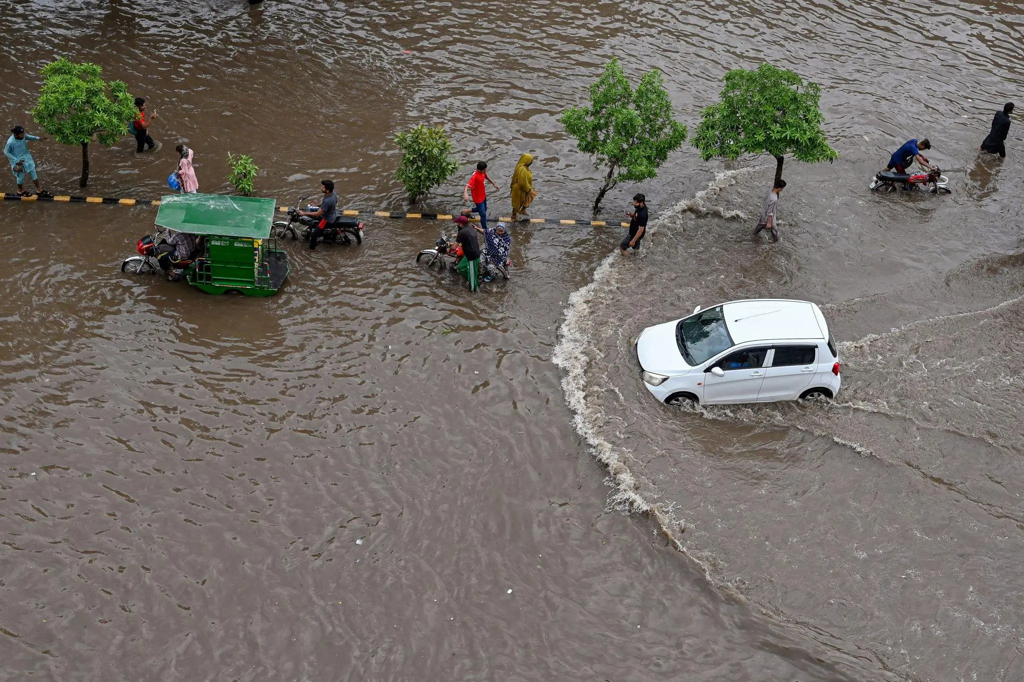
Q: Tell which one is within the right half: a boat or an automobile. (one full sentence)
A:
It is an automobile that can be seen within the right half.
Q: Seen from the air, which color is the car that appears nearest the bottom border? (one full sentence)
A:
The car that appears nearest the bottom border looks white in the image.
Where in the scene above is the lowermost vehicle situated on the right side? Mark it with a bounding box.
[637,297,841,402]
